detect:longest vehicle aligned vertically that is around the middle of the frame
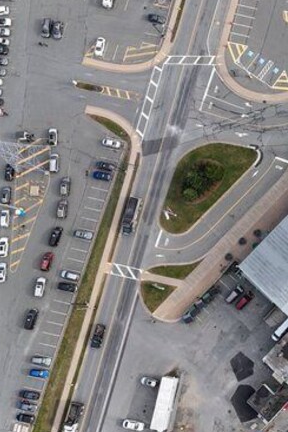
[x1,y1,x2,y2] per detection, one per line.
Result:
[121,196,142,233]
